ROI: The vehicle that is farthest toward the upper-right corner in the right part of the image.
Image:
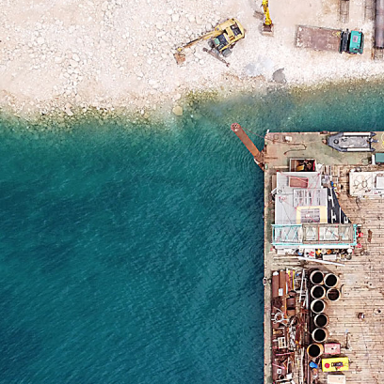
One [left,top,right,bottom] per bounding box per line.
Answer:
[295,26,364,56]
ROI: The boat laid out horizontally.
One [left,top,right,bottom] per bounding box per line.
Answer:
[326,133,372,153]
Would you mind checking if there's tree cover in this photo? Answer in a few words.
No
